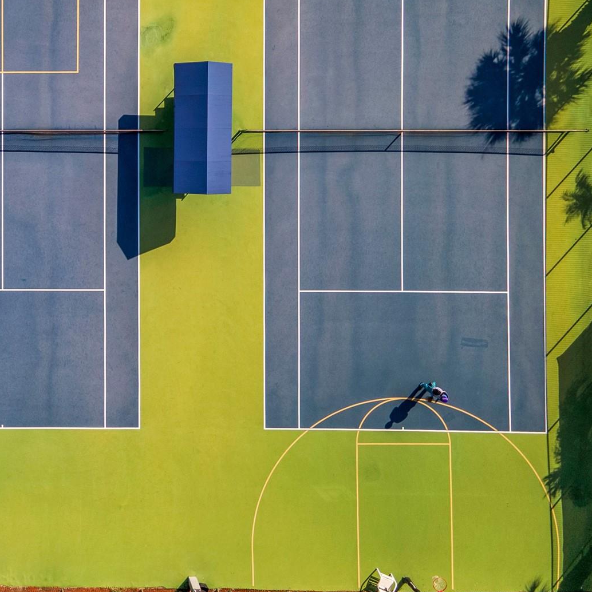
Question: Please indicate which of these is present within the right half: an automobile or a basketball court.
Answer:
basketball court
